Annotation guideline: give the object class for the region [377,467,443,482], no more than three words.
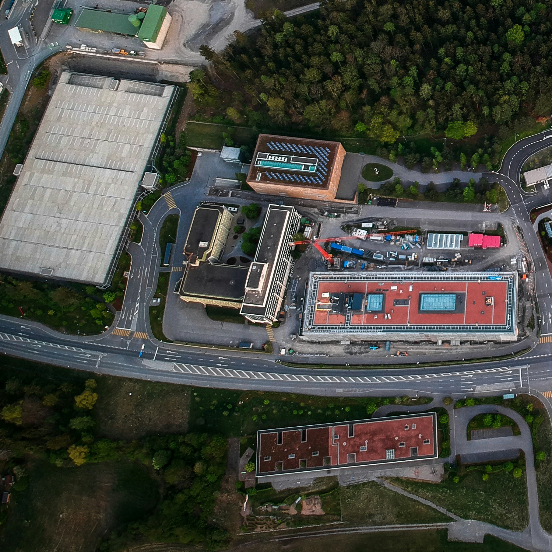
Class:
playground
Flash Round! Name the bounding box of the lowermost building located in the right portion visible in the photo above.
[256,412,439,477]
